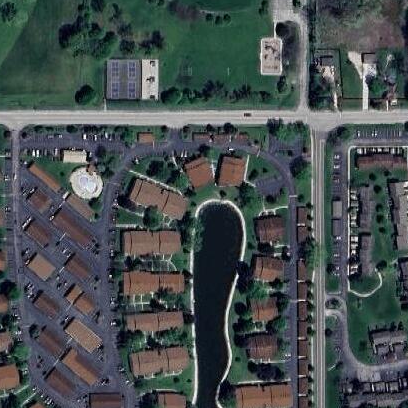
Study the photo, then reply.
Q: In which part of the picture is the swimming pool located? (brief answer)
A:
left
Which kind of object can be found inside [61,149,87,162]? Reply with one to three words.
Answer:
building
